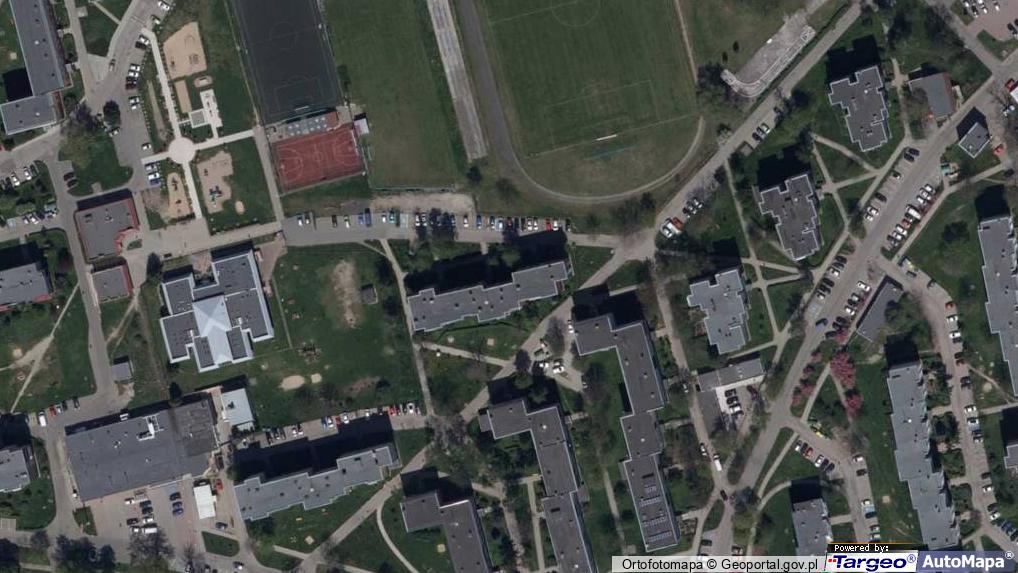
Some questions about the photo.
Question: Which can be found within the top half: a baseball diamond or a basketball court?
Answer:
basketball court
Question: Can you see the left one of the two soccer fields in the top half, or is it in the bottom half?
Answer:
top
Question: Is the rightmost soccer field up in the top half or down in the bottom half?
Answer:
top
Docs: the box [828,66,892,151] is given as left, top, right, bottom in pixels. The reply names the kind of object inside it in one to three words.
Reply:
building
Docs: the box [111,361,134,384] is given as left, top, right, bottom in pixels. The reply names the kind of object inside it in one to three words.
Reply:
shed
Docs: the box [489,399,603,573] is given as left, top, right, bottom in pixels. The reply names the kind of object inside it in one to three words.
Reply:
building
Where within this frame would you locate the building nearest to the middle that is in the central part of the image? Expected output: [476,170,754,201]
[408,262,574,333]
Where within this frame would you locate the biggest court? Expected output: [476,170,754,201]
[270,123,366,197]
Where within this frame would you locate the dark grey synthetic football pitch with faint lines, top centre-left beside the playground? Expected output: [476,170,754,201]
[227,0,347,135]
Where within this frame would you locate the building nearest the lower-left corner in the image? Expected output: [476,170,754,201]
[0,445,40,494]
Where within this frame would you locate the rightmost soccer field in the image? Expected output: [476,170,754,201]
[477,0,701,198]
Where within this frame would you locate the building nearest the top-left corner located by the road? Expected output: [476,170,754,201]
[0,0,74,135]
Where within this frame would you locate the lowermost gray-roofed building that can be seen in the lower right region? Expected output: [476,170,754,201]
[792,496,839,573]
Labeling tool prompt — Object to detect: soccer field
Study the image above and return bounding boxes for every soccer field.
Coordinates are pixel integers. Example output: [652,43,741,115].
[477,0,701,198]
[227,0,347,135]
